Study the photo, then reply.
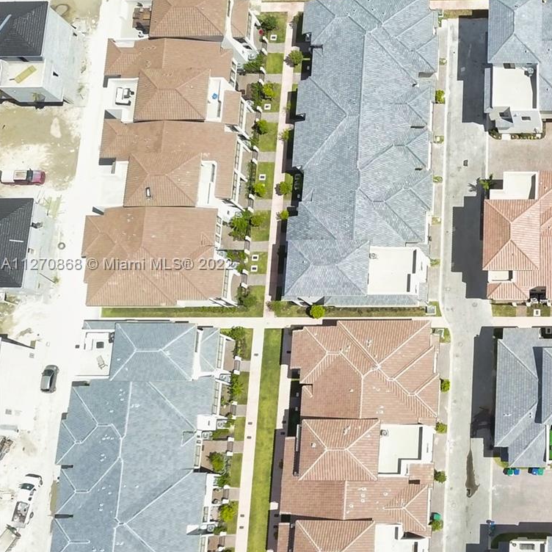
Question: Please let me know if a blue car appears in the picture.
No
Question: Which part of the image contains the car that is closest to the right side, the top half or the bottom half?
bottom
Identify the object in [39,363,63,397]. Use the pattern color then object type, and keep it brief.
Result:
gray car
